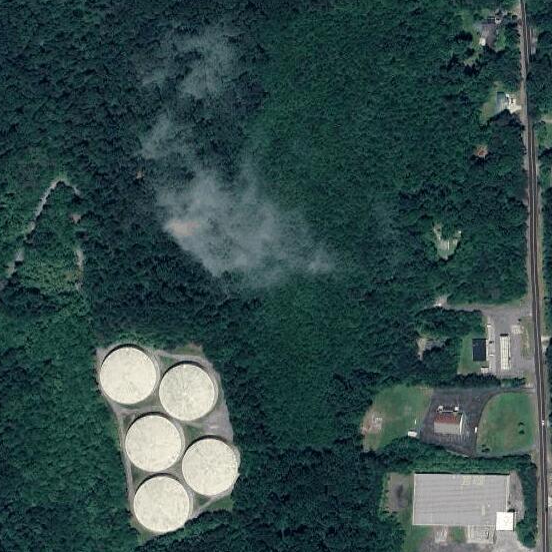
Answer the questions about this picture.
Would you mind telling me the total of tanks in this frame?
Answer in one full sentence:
The photo contains 5 tanks.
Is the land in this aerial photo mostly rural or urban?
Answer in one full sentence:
It looks rural.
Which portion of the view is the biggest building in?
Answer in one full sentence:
You can find the biggest building in the bottom right area of the picture.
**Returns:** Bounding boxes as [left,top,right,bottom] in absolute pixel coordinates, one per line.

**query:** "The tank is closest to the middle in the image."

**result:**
[160,362,220,421]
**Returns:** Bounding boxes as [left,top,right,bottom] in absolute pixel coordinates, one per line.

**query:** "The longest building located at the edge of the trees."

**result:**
[413,474,510,525]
